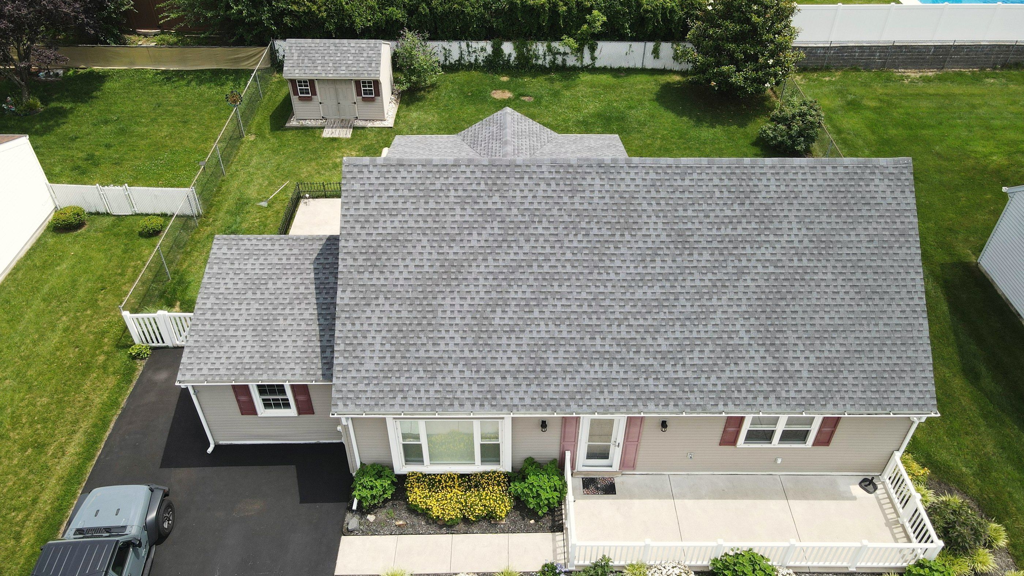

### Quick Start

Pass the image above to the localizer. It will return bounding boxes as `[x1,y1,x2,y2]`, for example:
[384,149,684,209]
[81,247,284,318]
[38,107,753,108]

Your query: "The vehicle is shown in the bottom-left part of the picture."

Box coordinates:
[25,487,178,576]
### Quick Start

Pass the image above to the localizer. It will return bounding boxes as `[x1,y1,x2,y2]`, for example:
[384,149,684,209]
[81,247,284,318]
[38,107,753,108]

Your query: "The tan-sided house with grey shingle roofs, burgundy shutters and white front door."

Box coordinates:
[173,105,941,481]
